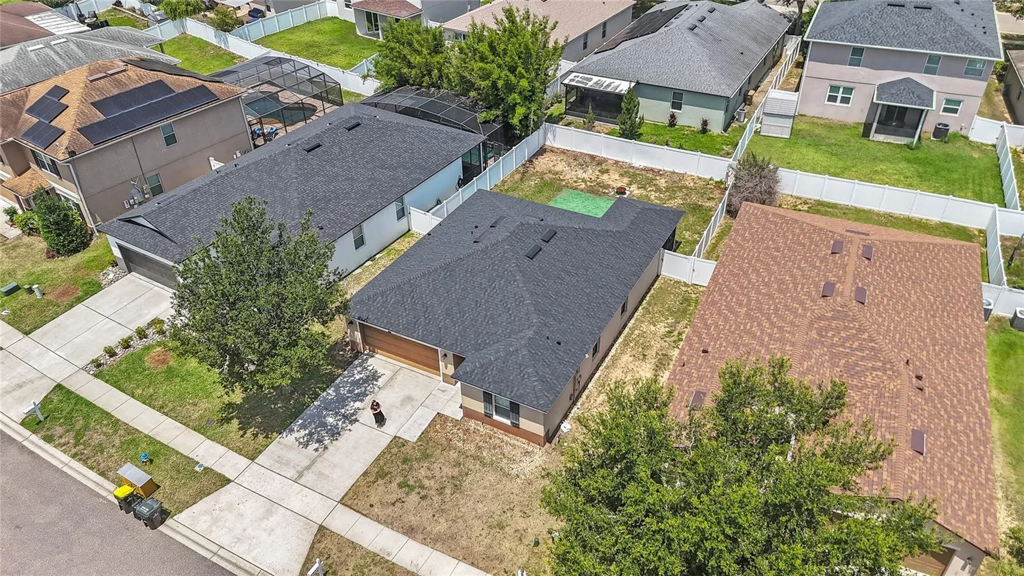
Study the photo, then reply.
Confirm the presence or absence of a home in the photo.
Yes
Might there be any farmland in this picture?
No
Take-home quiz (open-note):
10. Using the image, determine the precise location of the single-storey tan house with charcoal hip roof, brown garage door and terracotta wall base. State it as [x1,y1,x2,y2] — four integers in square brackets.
[334,189,685,447]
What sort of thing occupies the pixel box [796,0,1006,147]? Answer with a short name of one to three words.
house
